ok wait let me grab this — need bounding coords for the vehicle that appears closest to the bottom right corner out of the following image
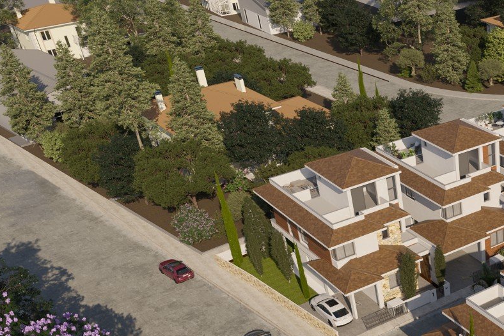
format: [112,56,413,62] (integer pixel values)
[312,295,354,325]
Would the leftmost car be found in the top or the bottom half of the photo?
bottom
